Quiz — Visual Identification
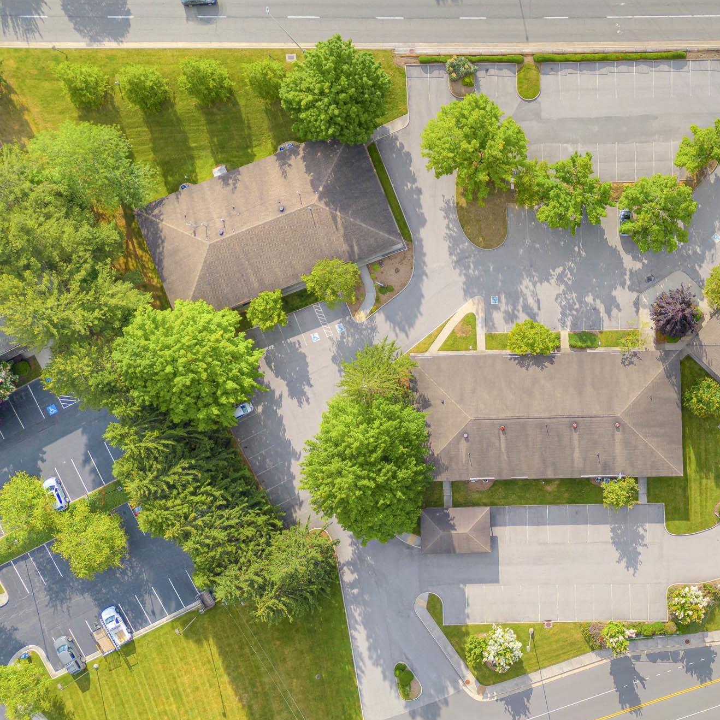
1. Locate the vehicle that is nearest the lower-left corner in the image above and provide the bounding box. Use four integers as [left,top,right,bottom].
[56,634,84,675]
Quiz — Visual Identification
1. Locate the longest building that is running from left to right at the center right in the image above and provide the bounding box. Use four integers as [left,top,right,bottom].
[410,350,684,482]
